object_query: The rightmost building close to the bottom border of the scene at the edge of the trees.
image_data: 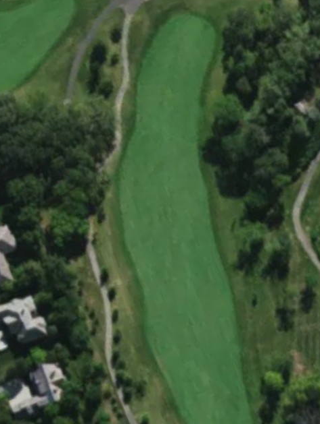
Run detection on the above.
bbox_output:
[29,360,69,407]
